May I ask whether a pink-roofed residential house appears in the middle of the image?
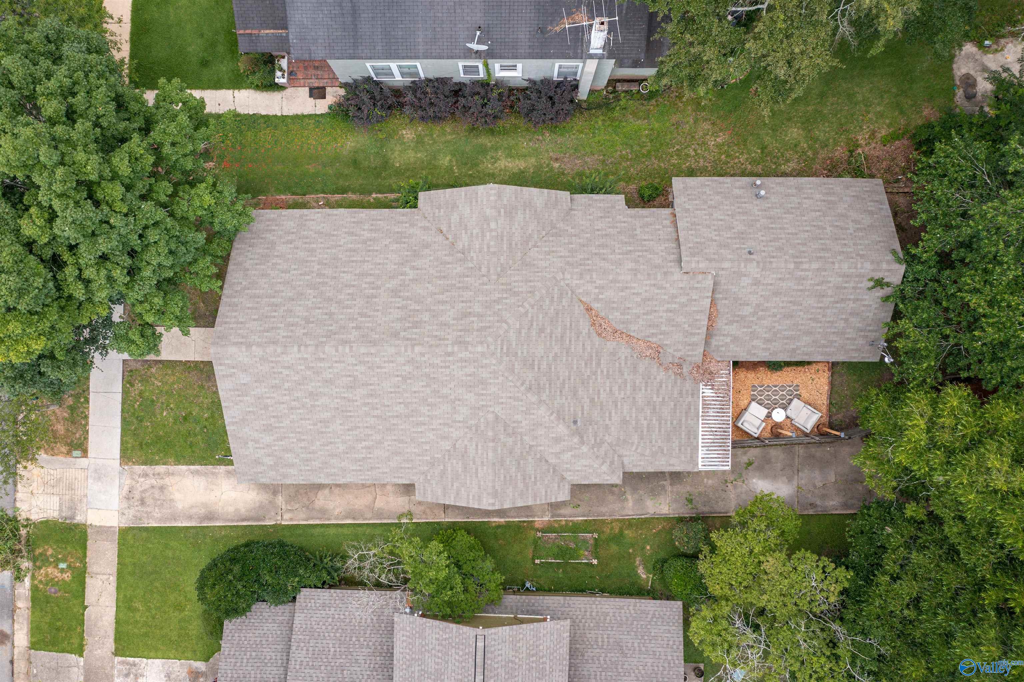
No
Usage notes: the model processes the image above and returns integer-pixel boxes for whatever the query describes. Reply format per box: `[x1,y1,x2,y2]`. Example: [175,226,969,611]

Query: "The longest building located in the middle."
[211,176,905,510]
